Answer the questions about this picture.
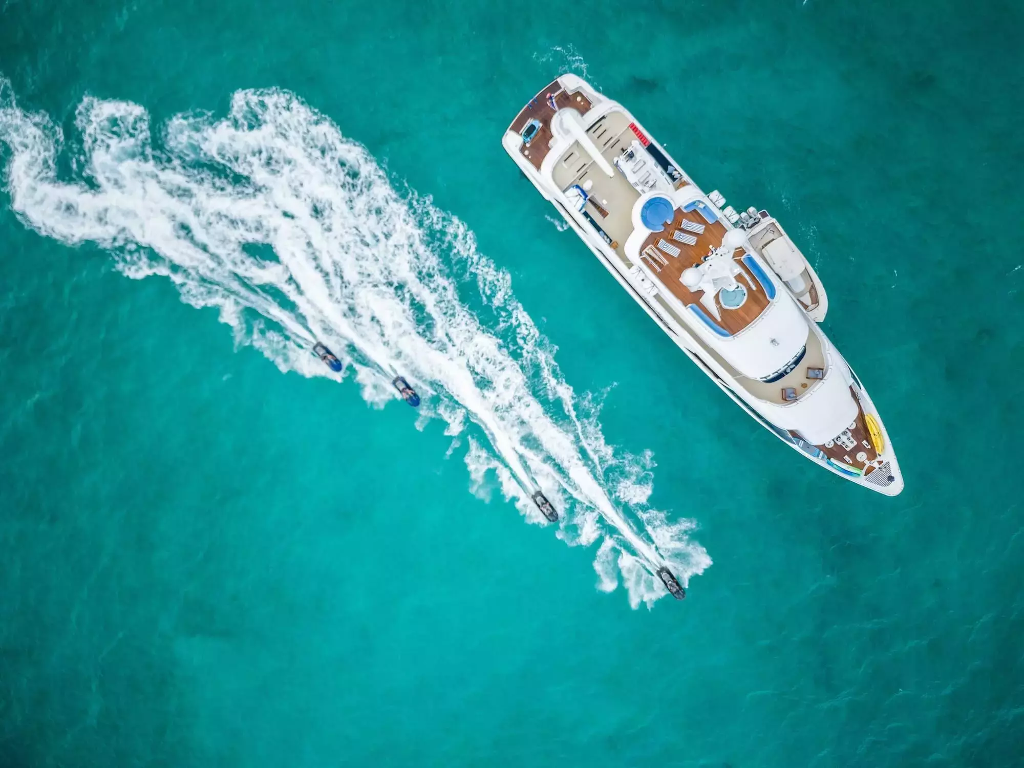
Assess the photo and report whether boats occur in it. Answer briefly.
Yes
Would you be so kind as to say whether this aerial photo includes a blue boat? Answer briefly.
Yes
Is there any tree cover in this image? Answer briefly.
No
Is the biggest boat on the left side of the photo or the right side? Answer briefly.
right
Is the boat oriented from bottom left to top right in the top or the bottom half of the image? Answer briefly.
top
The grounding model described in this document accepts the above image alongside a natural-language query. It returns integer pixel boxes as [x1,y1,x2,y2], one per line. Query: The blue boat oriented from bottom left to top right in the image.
[519,118,541,147]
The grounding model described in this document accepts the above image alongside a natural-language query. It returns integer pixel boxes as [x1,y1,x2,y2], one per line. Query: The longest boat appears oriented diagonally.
[501,78,901,495]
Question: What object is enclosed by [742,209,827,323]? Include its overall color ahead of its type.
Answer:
white boat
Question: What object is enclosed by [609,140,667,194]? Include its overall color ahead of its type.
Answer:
white boat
